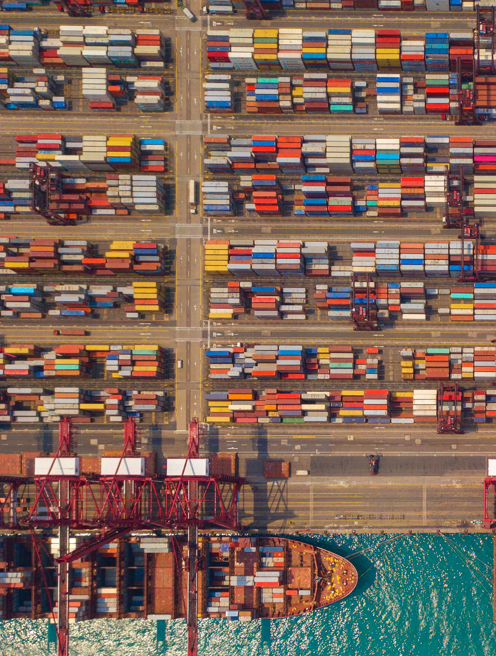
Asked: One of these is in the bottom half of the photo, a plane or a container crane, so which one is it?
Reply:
container crane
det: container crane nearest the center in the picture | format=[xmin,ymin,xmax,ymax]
[351,272,380,330]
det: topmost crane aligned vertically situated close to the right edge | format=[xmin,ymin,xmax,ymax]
[472,6,496,74]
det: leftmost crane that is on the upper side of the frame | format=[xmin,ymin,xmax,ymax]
[32,162,72,224]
